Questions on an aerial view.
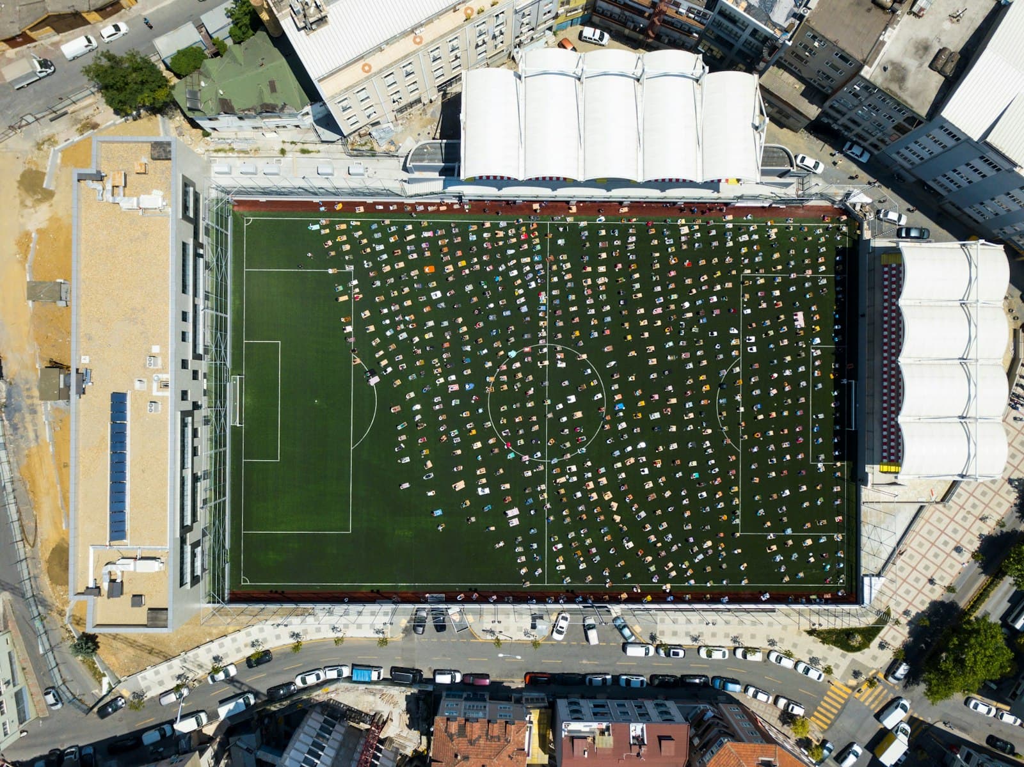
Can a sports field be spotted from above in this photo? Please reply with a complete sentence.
Yes, there's a sports field here.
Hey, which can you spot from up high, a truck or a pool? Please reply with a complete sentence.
This aerial view contains a truck.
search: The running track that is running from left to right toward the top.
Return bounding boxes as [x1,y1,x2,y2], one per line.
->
[231,201,857,219]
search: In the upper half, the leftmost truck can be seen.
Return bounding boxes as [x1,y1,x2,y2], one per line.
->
[4,56,56,91]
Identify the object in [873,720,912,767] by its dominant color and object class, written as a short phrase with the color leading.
white truck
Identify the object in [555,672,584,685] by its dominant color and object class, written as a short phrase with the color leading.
black vehicle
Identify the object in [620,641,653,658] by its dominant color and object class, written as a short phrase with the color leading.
white car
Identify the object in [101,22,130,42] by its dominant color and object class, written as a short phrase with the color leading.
white car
